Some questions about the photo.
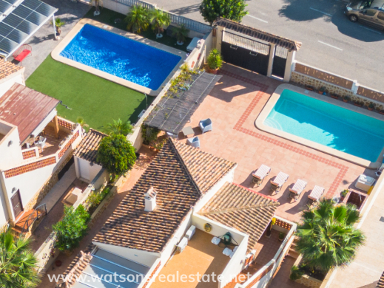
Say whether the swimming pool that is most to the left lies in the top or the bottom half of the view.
top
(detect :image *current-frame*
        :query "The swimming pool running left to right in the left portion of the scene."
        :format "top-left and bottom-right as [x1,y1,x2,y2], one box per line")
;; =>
[49,18,183,94]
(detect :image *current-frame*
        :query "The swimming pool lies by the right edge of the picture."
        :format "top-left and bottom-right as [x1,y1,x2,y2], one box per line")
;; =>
[254,82,384,171]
